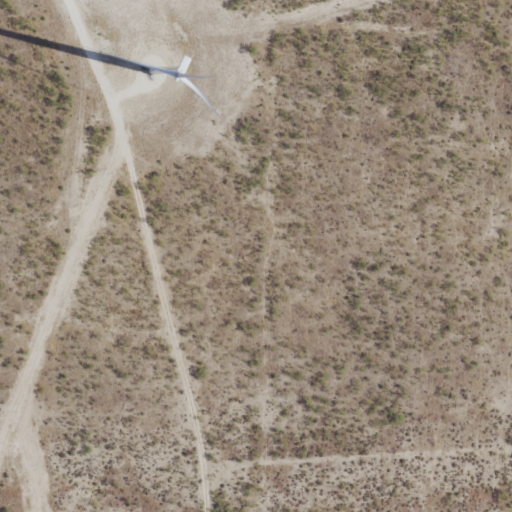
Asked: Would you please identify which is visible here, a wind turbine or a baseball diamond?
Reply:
wind turbine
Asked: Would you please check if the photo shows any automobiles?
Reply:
No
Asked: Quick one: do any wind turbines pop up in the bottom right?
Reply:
No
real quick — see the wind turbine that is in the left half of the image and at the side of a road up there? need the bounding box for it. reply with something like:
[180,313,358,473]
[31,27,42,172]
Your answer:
[90,53,222,118]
